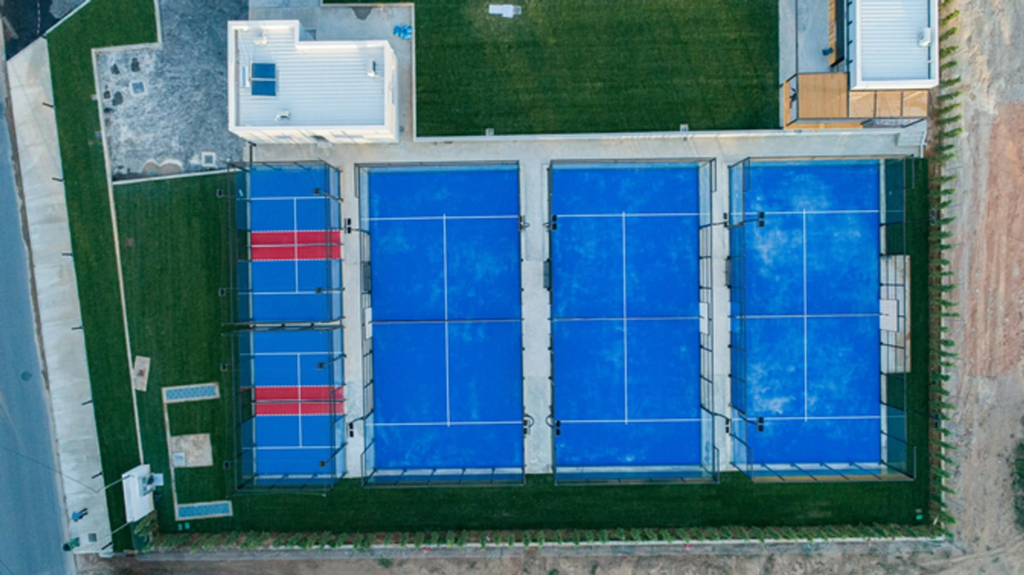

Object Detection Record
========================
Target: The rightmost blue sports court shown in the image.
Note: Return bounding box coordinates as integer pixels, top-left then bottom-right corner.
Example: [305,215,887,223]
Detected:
[728,153,917,485]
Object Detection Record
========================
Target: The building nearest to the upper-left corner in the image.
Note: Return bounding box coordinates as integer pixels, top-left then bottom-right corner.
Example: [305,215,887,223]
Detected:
[224,20,398,149]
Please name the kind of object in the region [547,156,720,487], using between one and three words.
sports court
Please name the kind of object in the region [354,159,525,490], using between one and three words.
sports court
